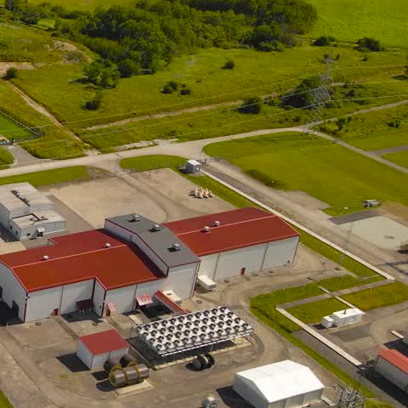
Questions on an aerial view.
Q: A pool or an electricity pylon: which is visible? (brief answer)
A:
electricity pylon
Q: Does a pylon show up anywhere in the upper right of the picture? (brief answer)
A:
Yes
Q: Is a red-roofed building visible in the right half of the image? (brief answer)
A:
Yes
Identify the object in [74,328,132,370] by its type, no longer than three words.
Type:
shed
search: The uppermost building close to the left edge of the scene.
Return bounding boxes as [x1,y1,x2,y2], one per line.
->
[0,182,68,240]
